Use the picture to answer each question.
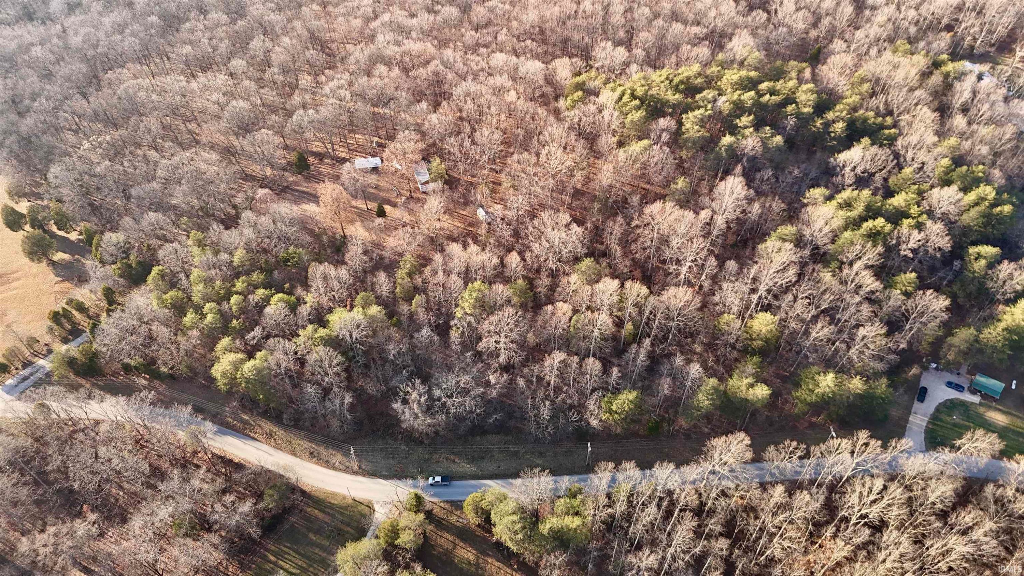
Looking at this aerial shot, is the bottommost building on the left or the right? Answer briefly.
right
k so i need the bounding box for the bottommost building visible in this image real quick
[969,374,1003,403]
